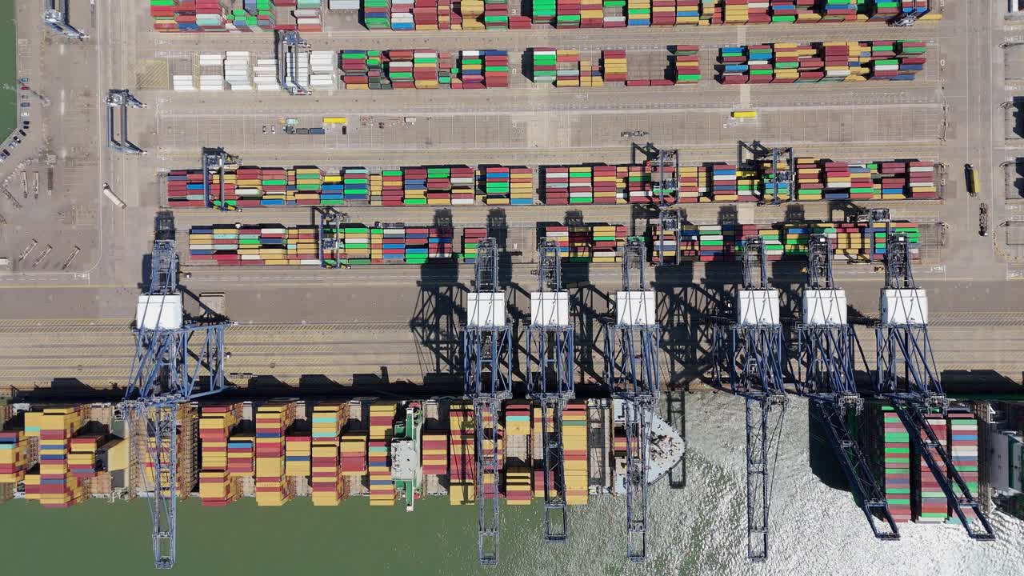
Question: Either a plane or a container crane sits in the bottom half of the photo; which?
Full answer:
There is a container crane in the bottom half of the photo.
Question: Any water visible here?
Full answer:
Yes, the picture does contain water.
